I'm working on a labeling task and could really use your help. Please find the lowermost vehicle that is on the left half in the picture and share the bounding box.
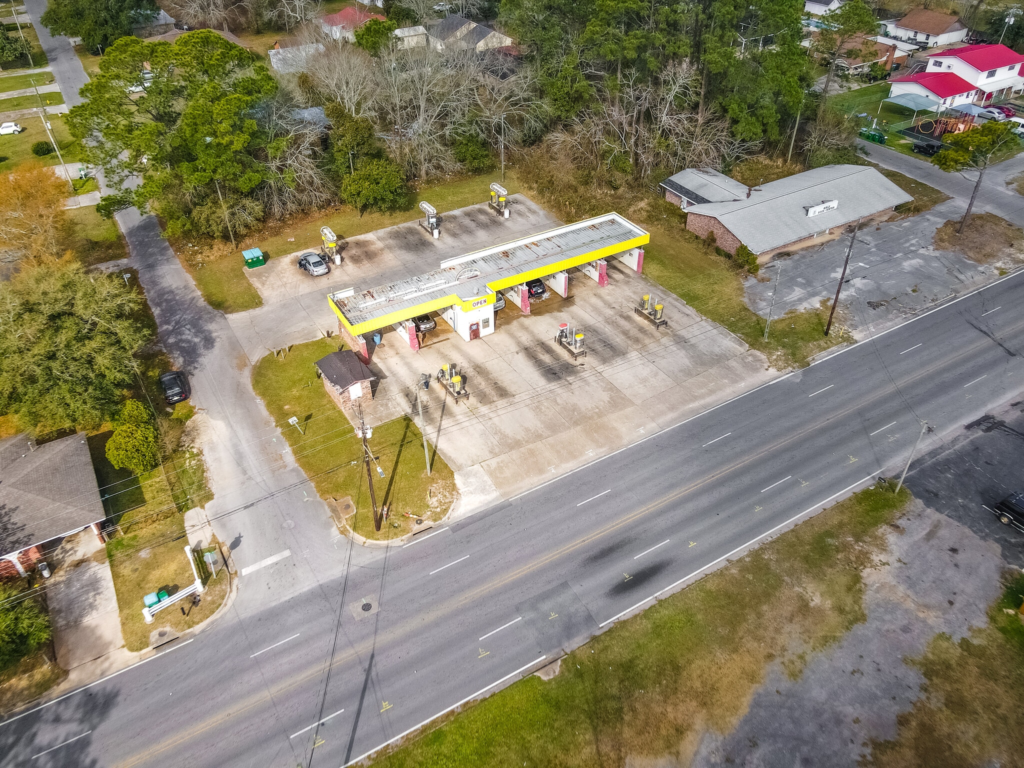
[153,364,189,398]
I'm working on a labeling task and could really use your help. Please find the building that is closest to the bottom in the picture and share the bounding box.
[0,426,111,589]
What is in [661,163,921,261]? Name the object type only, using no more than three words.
building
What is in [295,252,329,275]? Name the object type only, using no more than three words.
car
